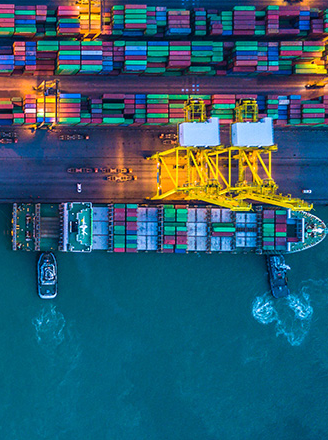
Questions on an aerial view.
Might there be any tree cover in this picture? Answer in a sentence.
No, there is no tree cover in the image.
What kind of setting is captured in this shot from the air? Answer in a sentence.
This looks like a port.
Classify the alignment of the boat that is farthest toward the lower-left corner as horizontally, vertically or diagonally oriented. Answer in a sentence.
I'd say the boat that is farthest toward the lower-left corner is aligned vertically in the picture.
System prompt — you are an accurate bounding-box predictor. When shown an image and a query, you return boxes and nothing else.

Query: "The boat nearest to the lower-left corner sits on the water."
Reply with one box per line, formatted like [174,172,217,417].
[37,252,57,298]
